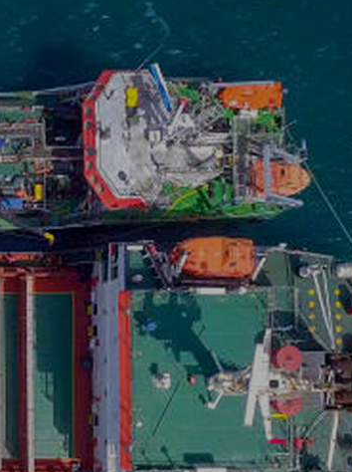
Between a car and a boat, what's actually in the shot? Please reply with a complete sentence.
The one in the frame is a boat.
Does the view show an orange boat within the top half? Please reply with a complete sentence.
Yes, an orange boat can be seen within the top half.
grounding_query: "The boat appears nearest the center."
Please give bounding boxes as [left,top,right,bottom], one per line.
[166,238,252,278]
